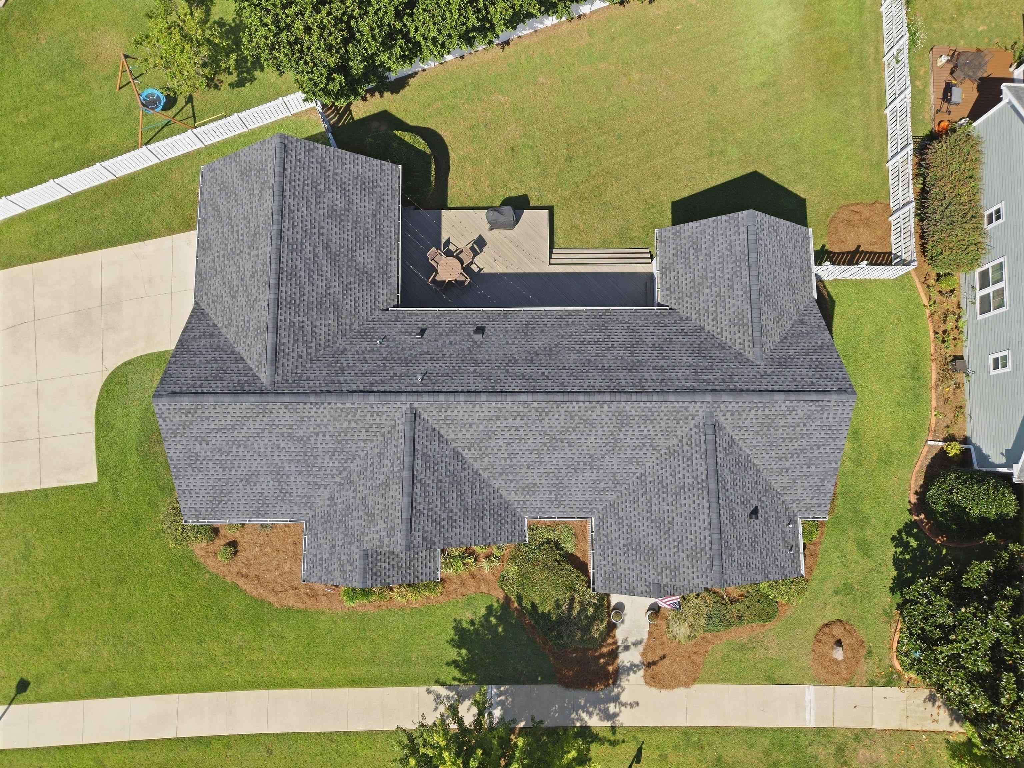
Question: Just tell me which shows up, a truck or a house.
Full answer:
There is a house in the scene.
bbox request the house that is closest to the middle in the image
[152,134,858,598]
